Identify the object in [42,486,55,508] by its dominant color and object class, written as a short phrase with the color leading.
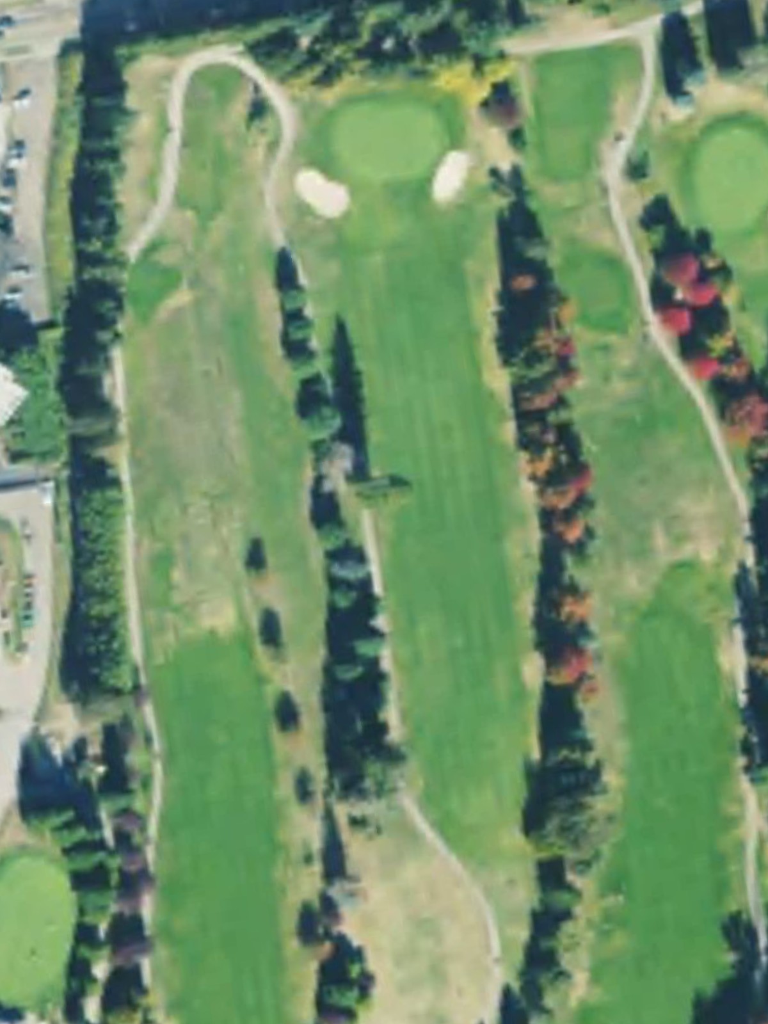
white vehicle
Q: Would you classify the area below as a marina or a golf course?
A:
golf course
